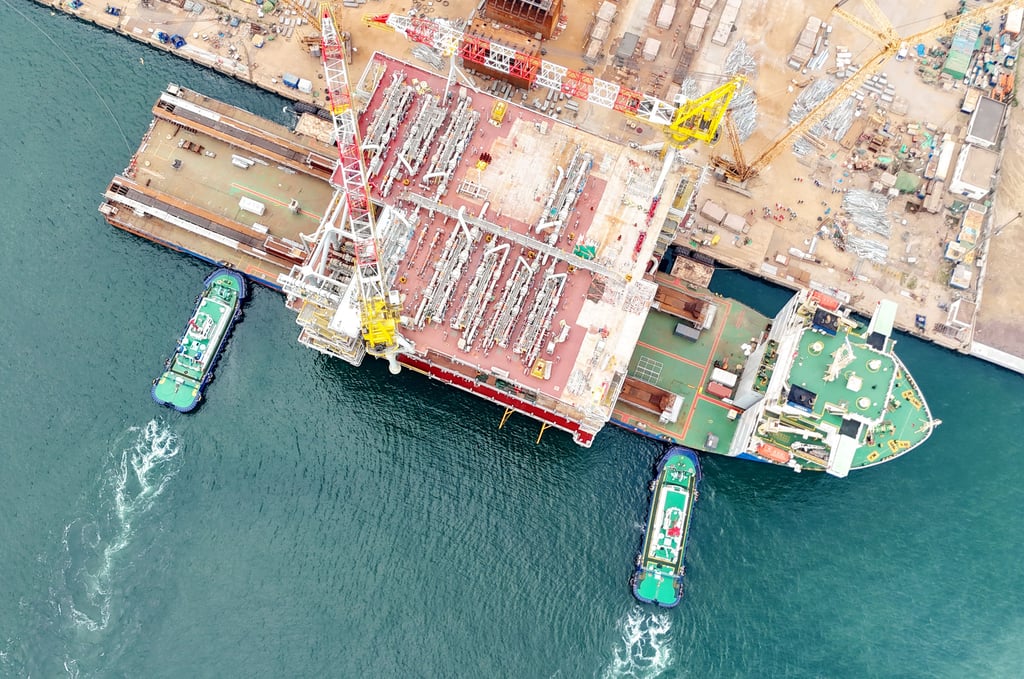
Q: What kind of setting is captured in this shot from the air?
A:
port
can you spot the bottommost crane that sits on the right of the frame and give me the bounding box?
[761,418,823,441]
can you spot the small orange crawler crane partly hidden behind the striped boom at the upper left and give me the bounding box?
[275,0,351,65]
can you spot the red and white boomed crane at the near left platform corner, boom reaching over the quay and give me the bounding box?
[319,0,401,372]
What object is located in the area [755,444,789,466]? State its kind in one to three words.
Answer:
boat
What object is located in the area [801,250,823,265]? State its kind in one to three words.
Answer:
vehicle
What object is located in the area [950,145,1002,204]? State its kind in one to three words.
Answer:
building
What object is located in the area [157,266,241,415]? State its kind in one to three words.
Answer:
boat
